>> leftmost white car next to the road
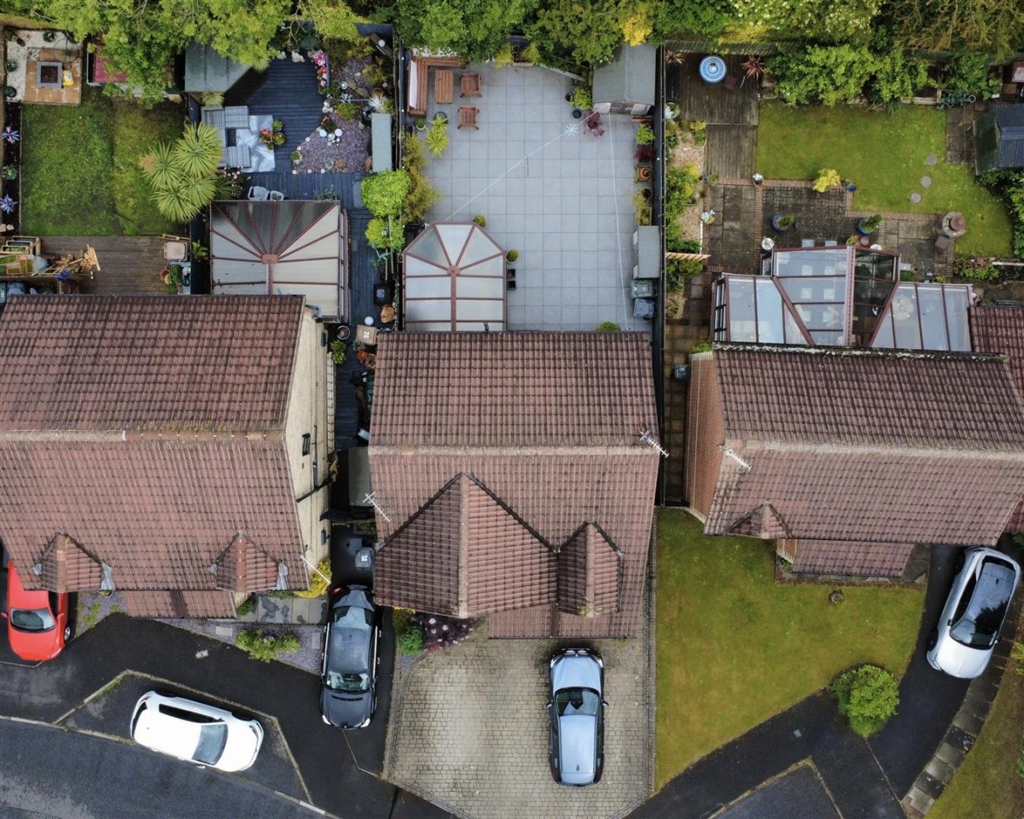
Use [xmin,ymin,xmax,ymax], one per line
[132,690,264,773]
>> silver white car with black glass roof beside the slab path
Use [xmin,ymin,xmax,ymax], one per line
[926,546,1018,677]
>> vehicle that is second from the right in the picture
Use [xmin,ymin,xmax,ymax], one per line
[544,648,610,787]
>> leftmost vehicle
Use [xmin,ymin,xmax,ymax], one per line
[4,571,71,662]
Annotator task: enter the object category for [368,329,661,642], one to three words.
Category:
house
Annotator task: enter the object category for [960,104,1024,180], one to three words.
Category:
shed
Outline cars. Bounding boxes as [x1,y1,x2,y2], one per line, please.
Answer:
[544,648,610,787]
[315,585,382,727]
[4,571,71,662]
[926,546,1018,677]
[132,690,264,773]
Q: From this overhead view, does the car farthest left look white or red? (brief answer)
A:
red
